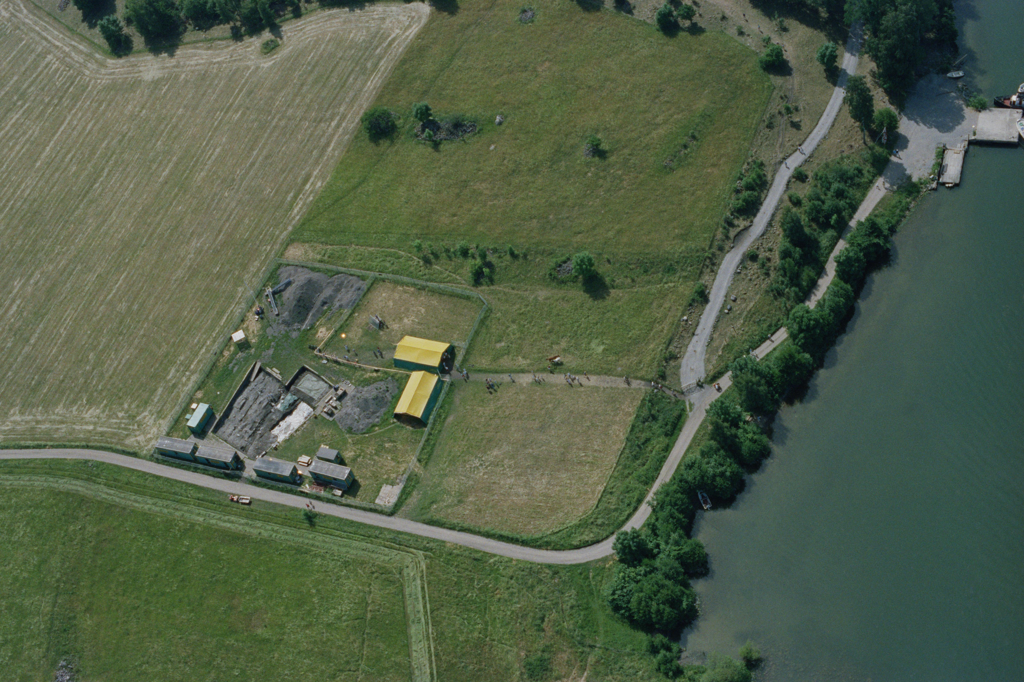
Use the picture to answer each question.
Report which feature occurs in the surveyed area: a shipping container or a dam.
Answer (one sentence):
Of the two, only a shipping container appears.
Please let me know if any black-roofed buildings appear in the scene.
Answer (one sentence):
No, the picture doesn't show any black-roofed building.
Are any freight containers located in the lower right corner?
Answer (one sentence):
No, no freight container is visible in the lower right corner.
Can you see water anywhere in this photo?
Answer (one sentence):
Yes, water can be seen from above here.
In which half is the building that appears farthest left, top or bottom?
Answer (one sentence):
Seen from above, the building that appears farthest left lies in the bottom half of the view.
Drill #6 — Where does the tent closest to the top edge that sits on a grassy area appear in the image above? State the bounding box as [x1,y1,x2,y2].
[394,336,452,373]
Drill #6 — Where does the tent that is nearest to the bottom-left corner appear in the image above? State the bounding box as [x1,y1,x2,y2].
[394,371,441,424]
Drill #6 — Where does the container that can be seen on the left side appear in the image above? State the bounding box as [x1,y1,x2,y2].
[186,403,214,435]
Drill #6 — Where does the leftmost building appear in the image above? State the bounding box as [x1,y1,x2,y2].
[154,436,198,461]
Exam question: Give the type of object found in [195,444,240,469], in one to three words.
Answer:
building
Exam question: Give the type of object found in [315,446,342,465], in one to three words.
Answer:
building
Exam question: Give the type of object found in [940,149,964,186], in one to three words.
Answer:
pier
